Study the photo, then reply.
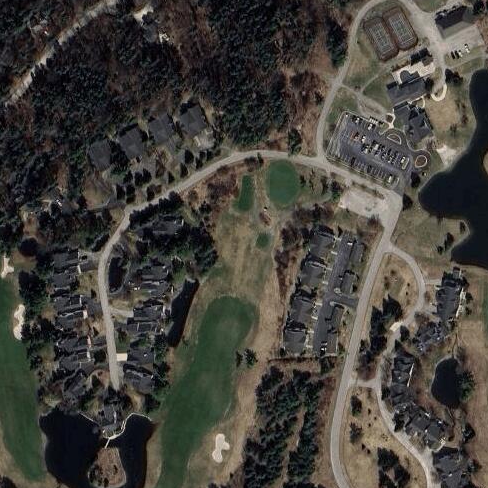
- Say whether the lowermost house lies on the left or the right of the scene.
right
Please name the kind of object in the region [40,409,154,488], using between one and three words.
pond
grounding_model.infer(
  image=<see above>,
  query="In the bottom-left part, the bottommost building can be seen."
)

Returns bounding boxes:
[99,408,120,436]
